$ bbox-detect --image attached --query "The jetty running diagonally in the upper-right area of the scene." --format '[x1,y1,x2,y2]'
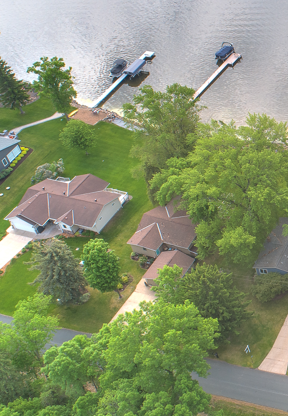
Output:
[185,60,238,114]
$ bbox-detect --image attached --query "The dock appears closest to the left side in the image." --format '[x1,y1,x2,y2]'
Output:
[90,51,152,108]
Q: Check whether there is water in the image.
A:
Yes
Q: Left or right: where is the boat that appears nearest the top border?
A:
right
